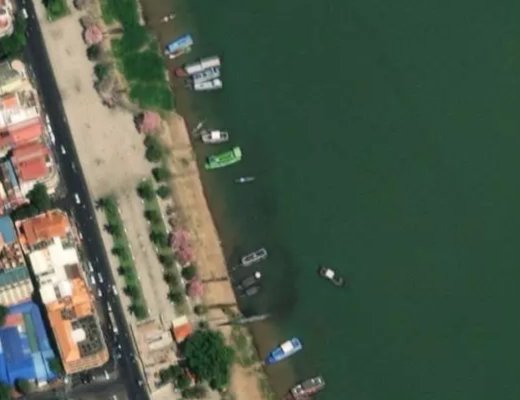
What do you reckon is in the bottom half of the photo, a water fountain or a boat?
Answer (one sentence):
The feature located in the bottom half of the photo is a boat.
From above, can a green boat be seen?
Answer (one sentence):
Yes, there's a green boat down there.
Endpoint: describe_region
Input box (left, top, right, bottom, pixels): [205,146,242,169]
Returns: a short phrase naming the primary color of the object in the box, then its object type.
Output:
green boat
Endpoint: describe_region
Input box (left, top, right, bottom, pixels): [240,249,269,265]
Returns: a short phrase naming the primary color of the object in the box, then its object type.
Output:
gray boat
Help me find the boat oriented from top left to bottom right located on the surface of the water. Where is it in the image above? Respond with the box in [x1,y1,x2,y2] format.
[320,266,343,285]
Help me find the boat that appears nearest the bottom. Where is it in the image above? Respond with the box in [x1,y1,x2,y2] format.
[280,373,327,400]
